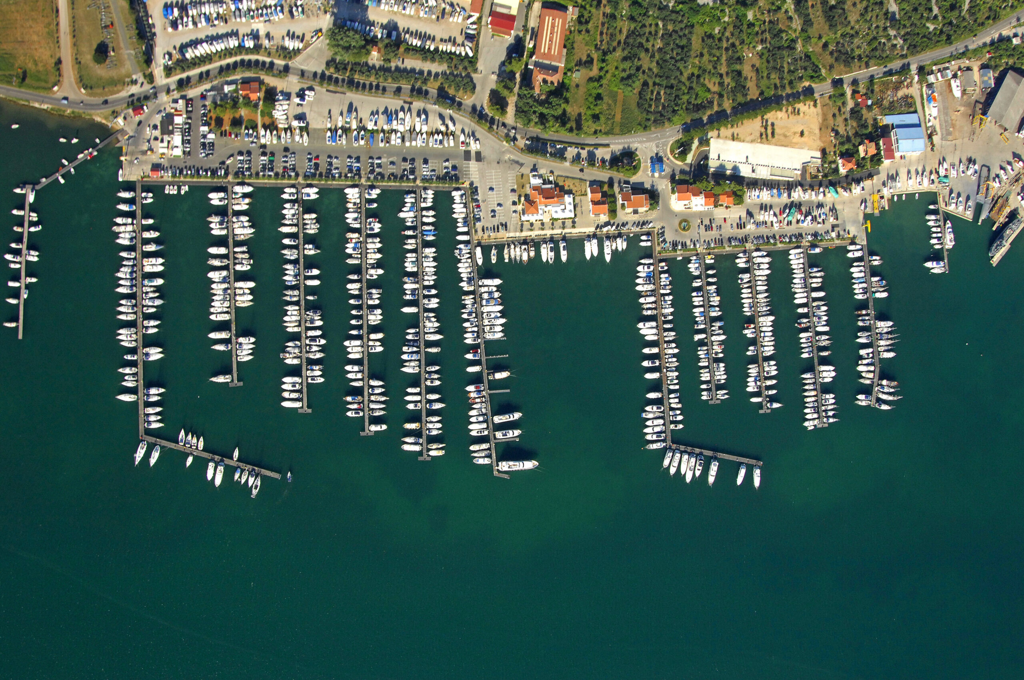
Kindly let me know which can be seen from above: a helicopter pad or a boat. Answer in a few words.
boat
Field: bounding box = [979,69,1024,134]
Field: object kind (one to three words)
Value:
building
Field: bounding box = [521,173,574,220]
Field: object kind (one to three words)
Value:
building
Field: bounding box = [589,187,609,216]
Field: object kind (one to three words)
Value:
house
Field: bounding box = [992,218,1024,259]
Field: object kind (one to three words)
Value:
ship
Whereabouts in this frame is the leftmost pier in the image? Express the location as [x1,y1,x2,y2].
[18,185,32,339]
